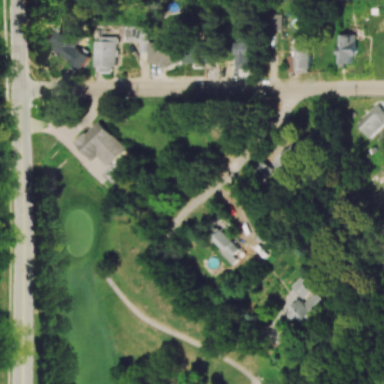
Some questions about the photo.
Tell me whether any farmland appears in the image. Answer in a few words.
No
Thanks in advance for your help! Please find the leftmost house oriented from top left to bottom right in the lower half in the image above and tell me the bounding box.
[208,225,242,262]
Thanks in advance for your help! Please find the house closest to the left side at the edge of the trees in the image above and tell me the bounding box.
[46,28,90,70]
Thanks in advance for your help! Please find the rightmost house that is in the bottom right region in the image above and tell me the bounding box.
[285,276,324,320]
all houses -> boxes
[232,42,246,68]
[288,49,310,73]
[255,160,278,183]
[46,28,90,70]
[285,276,324,320]
[334,34,357,69]
[93,36,118,74]
[147,41,172,65]
[208,225,242,262]
[71,122,124,168]
[356,104,384,138]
